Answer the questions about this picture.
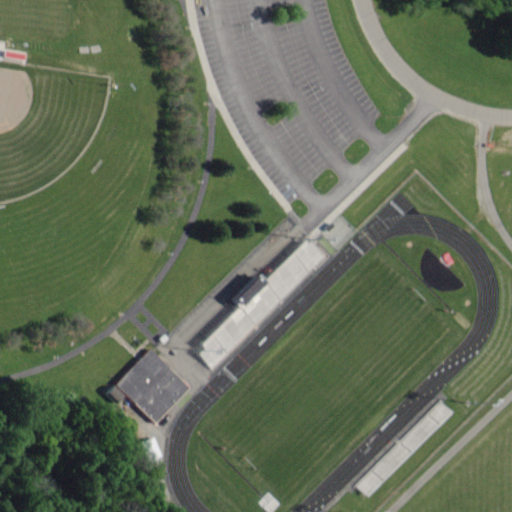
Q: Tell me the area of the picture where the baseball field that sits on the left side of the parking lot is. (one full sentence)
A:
The baseball field that sits on the left side of the parking lot is located in the top left region of the scene.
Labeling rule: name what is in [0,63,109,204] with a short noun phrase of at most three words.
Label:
baseball field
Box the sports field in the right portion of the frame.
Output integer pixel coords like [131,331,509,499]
[186,234,477,512]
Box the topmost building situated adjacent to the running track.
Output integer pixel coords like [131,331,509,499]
[110,350,190,424]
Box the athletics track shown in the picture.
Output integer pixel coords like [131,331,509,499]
[167,189,496,512]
